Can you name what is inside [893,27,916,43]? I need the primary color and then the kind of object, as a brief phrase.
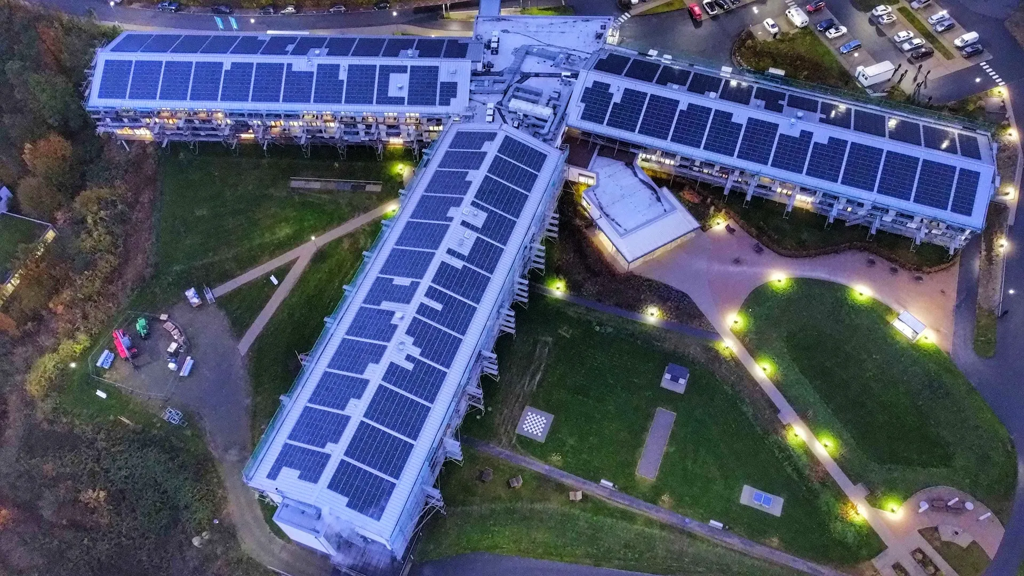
white car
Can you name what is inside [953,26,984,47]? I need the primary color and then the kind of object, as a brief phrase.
white car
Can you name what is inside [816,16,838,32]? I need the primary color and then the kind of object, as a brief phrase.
blue car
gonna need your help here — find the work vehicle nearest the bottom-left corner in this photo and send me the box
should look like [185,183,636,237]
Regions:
[108,323,135,371]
